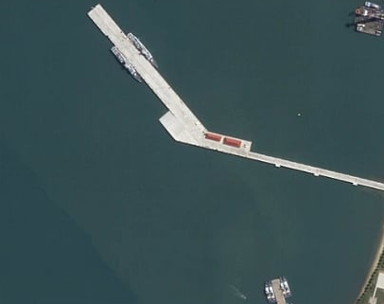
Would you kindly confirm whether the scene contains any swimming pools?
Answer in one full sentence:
No, I can see no swimming pool in this picture.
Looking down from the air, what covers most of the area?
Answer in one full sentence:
The scene is dominated by water.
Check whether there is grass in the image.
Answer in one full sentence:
No, there's no grass in this view.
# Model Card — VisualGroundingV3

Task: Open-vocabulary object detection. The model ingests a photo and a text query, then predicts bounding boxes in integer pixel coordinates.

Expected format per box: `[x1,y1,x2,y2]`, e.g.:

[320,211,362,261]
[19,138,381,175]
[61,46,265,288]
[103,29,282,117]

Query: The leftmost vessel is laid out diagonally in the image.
[110,47,141,82]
